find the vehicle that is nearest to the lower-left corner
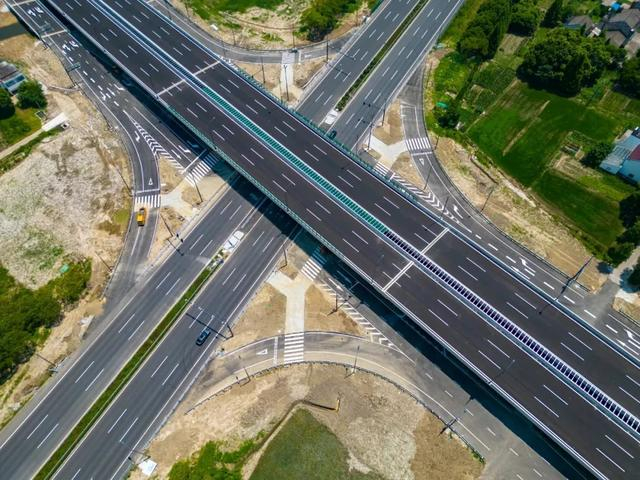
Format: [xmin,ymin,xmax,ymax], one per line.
[196,327,211,345]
